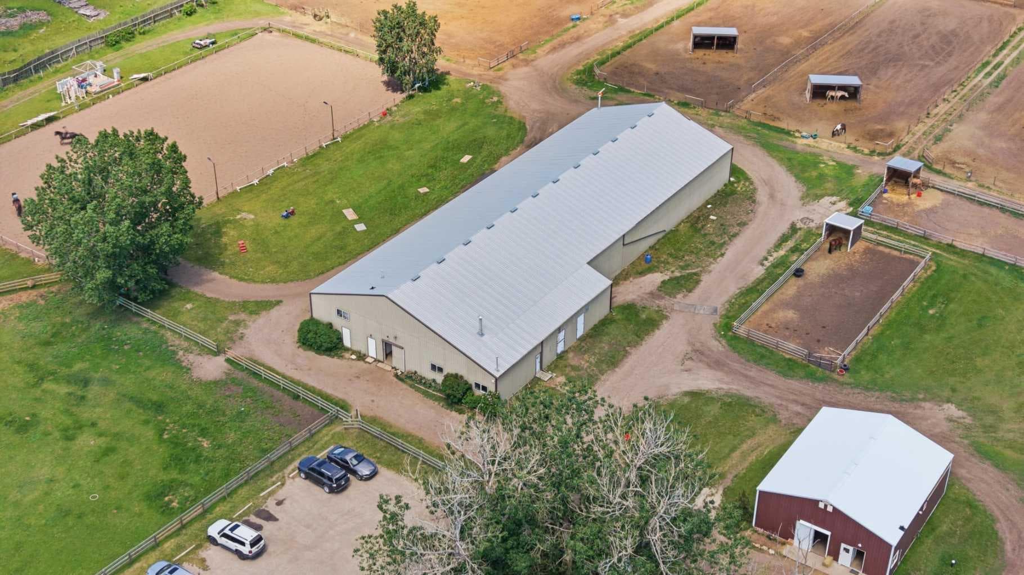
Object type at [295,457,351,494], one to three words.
car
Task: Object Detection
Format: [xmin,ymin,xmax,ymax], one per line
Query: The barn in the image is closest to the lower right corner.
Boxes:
[750,408,956,575]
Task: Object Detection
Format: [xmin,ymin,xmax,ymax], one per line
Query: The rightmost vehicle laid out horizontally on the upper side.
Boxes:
[188,35,219,50]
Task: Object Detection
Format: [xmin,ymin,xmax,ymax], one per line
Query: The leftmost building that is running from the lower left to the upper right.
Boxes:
[308,91,736,396]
